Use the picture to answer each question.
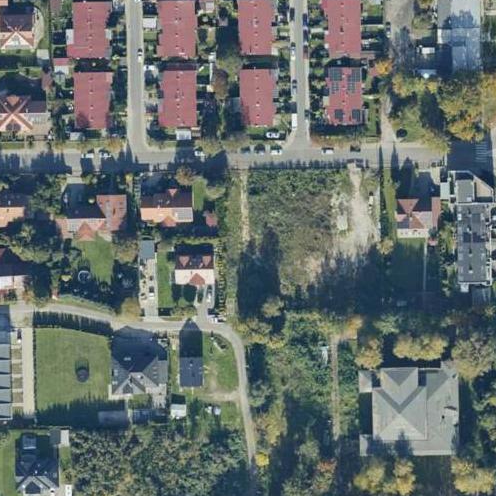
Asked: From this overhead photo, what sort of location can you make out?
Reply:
residential area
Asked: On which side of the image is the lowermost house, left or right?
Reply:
left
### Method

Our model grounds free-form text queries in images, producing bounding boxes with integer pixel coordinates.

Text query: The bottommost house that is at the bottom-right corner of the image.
[360,362,458,456]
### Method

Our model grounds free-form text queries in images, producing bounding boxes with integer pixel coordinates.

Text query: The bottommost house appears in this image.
[15,449,59,496]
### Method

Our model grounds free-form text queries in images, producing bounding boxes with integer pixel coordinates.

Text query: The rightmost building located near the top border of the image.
[437,0,480,70]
